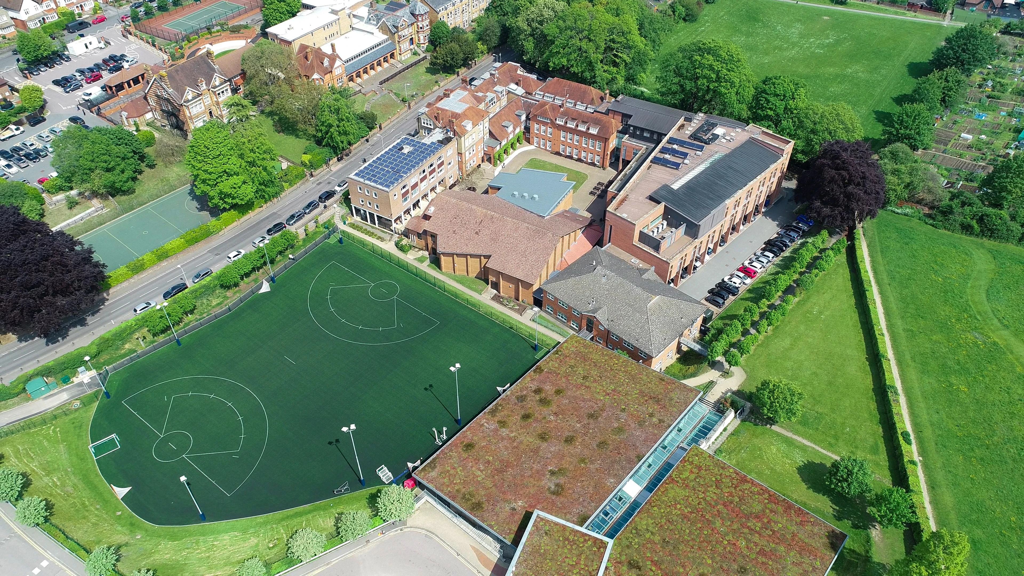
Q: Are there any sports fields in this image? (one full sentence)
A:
Yes, this view includes a sports field.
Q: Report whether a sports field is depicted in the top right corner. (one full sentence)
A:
Yes, looking in the top right corner, one can make out a sports field.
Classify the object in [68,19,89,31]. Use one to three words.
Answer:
vehicle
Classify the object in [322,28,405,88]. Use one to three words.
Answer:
building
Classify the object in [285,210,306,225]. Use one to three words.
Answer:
car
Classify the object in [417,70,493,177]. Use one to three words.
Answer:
building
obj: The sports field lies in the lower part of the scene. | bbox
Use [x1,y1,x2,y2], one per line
[89,230,549,526]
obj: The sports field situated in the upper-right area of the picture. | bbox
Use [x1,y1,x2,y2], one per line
[631,0,954,153]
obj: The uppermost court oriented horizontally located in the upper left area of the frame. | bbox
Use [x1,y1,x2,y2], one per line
[134,0,259,40]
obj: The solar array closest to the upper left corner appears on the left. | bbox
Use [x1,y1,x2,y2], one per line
[351,136,446,188]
